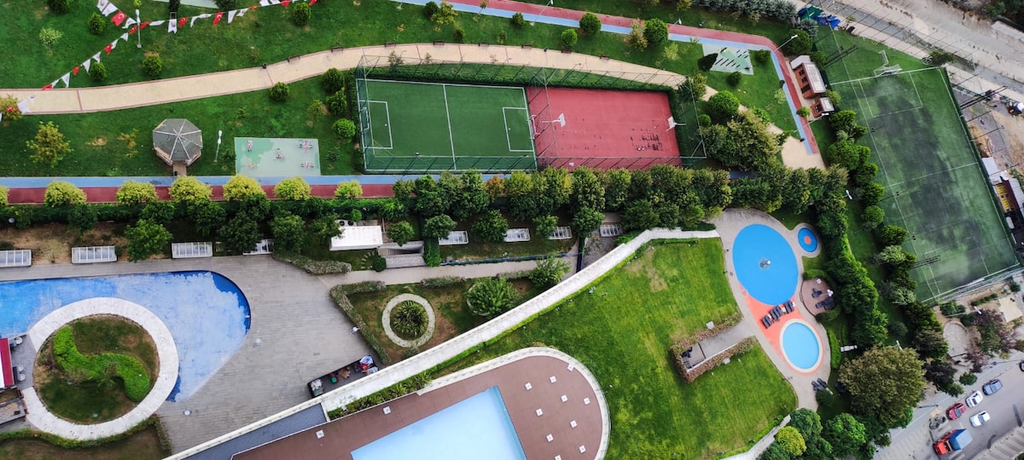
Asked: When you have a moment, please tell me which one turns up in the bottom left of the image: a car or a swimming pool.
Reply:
swimming pool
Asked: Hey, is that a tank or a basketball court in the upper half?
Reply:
basketball court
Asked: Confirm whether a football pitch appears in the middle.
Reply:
No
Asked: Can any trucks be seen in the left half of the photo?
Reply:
No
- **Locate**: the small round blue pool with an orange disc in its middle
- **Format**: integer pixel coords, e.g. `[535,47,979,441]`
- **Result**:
[797,224,820,254]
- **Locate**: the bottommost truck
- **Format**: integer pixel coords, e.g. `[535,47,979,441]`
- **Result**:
[937,431,977,455]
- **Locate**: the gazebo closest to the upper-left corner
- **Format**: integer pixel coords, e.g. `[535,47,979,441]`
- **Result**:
[152,120,202,164]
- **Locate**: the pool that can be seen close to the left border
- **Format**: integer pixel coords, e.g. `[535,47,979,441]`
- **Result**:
[0,271,251,403]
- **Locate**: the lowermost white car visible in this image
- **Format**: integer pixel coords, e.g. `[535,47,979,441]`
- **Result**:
[969,412,991,427]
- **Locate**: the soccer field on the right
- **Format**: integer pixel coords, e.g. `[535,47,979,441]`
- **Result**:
[823,13,1023,301]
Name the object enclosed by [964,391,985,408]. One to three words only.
car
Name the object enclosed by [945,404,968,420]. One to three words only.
car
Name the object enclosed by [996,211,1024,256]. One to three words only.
shed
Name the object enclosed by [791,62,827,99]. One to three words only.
shed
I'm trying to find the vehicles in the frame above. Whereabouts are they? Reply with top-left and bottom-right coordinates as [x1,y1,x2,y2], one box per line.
[937,431,977,455]
[945,404,968,420]
[964,391,985,408]
[969,412,991,427]
[982,380,1002,396]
